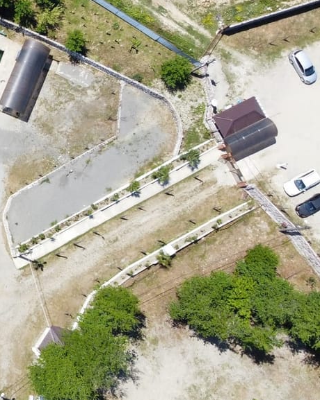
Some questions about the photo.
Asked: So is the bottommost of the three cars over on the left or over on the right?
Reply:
right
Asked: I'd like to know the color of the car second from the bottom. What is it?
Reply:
white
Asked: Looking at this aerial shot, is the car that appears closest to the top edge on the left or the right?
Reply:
right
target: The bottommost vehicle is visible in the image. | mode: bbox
[293,194,320,218]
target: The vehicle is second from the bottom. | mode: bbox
[282,171,320,196]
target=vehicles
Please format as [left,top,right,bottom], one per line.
[282,171,320,196]
[293,194,320,218]
[289,51,315,83]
